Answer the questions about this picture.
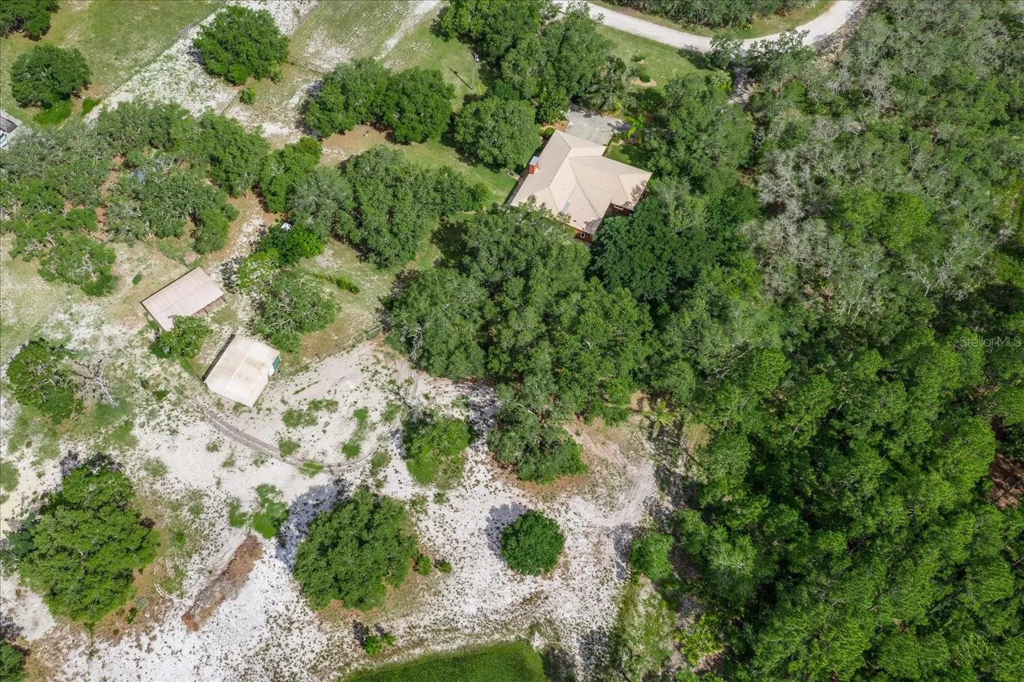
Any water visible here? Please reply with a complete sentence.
No, the picture contains no water.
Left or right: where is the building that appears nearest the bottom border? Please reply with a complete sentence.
It is on the left.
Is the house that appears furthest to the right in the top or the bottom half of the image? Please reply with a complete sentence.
The house that appears furthest to the right is in the top half of the image.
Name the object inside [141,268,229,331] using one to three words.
shed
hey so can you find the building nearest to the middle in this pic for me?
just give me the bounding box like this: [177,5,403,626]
[509,129,653,250]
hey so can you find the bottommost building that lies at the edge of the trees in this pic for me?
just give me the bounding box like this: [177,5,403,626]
[205,336,286,408]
